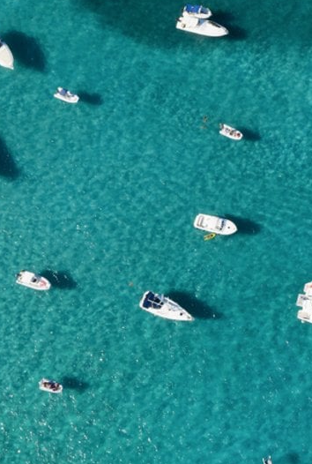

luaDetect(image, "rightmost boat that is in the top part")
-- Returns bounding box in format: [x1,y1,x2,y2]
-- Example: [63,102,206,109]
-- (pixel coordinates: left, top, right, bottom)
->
[220,125,243,138]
